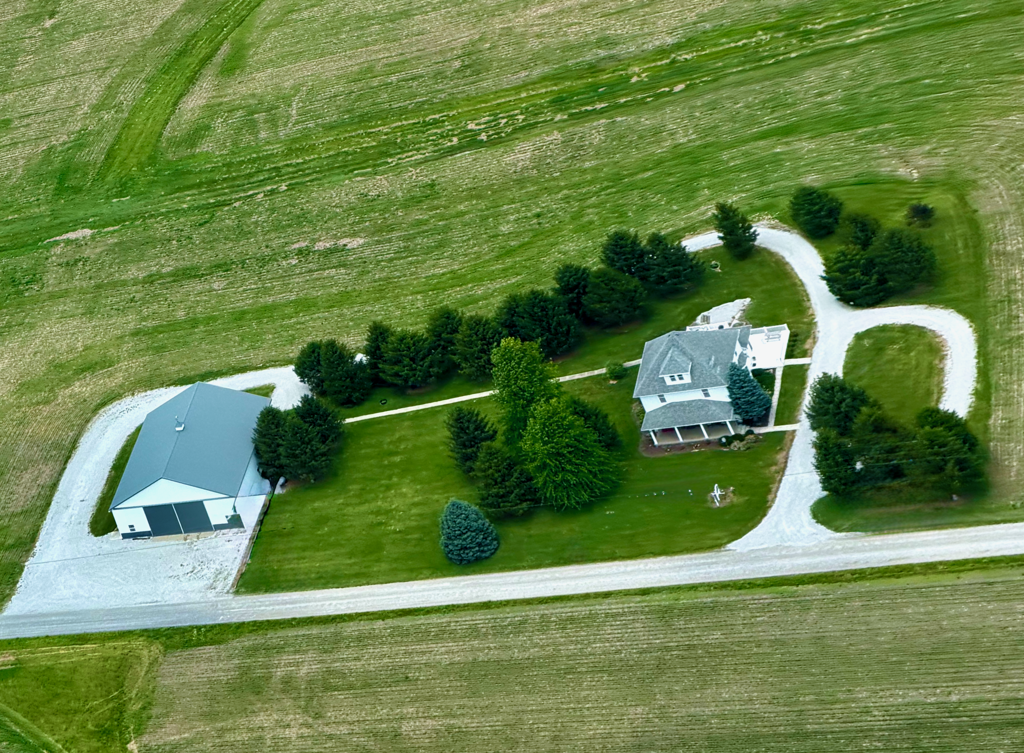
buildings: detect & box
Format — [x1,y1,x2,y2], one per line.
[632,324,757,451]
[108,381,278,540]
